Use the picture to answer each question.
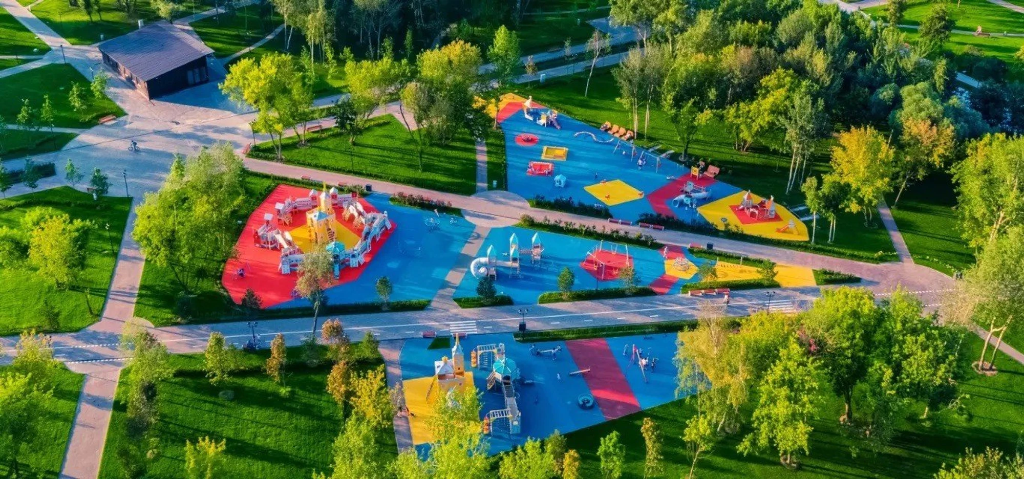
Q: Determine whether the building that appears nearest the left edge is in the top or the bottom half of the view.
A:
top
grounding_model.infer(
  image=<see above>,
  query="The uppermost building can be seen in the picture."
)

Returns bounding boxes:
[97,20,209,99]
